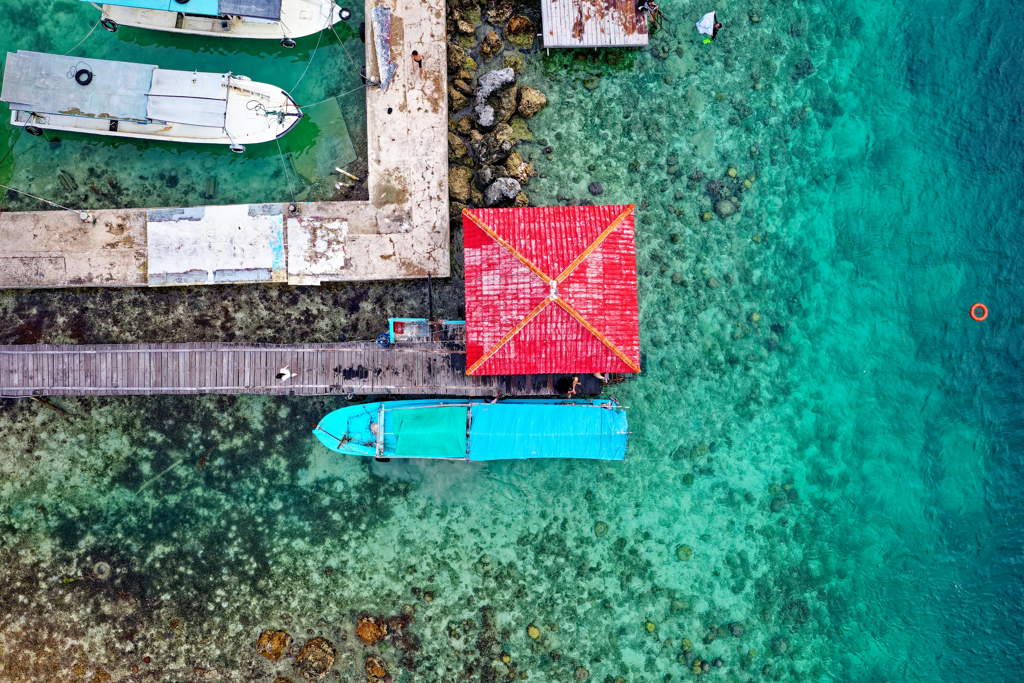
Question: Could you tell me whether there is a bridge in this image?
No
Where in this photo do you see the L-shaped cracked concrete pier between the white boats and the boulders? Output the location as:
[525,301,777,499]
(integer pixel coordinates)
[0,0,451,289]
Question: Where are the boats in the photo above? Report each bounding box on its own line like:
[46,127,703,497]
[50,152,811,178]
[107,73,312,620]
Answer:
[1,49,306,145]
[80,0,347,41]
[311,394,633,463]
